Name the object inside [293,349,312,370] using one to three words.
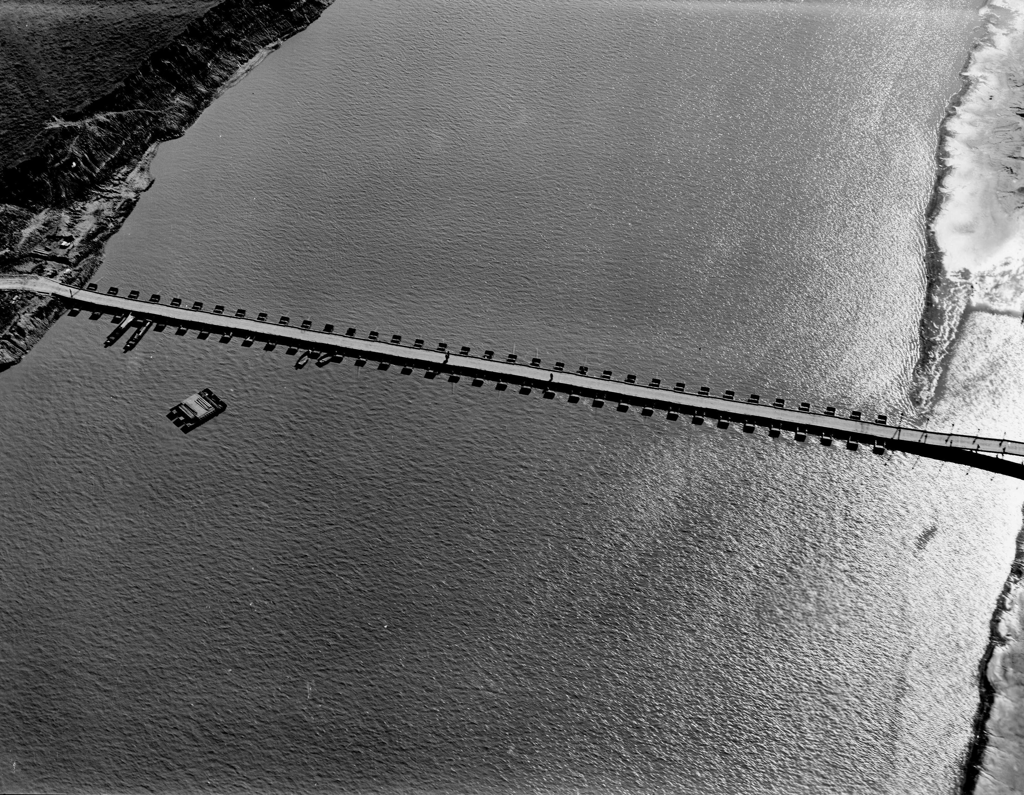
boat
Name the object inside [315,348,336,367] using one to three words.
boat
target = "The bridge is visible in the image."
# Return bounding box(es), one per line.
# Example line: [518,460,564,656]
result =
[32,277,1024,463]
